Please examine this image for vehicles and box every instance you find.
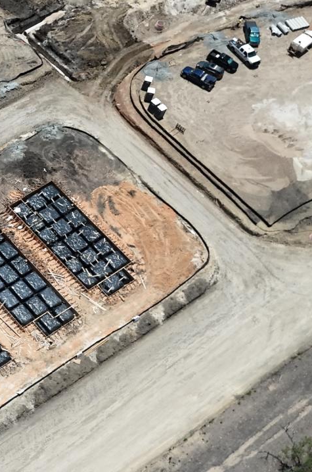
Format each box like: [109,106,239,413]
[242,21,262,46]
[179,68,218,90]
[231,35,262,64]
[205,47,241,73]
[279,28,312,59]
[193,62,226,81]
